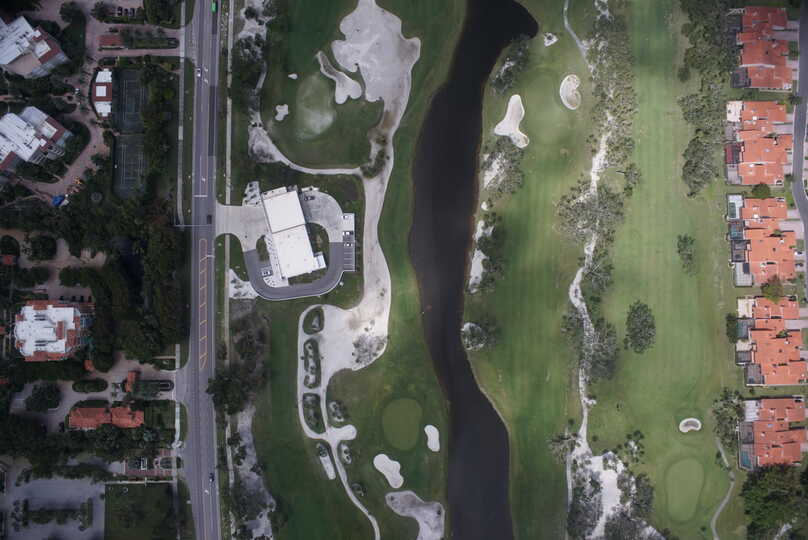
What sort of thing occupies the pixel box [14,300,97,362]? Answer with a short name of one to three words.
building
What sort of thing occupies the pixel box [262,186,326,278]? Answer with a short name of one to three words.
building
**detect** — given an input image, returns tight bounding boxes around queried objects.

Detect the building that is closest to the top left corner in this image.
[0,15,69,81]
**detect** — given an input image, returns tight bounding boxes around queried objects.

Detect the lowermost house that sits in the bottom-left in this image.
[69,405,145,428]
